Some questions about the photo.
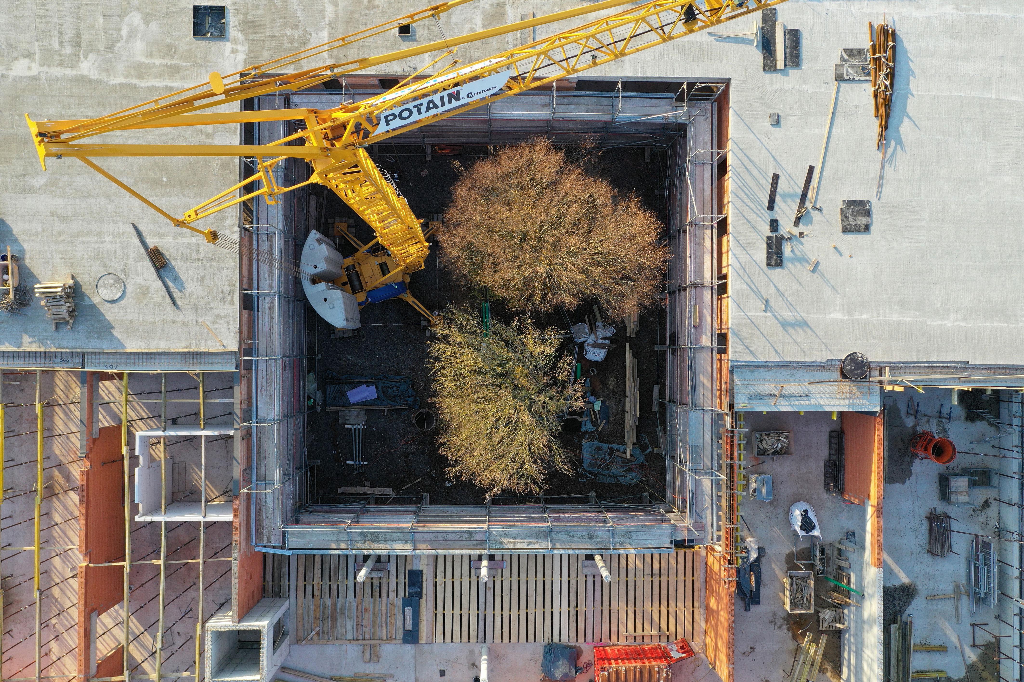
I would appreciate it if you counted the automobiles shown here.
0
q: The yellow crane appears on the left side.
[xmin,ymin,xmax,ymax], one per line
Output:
[24,0,781,336]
